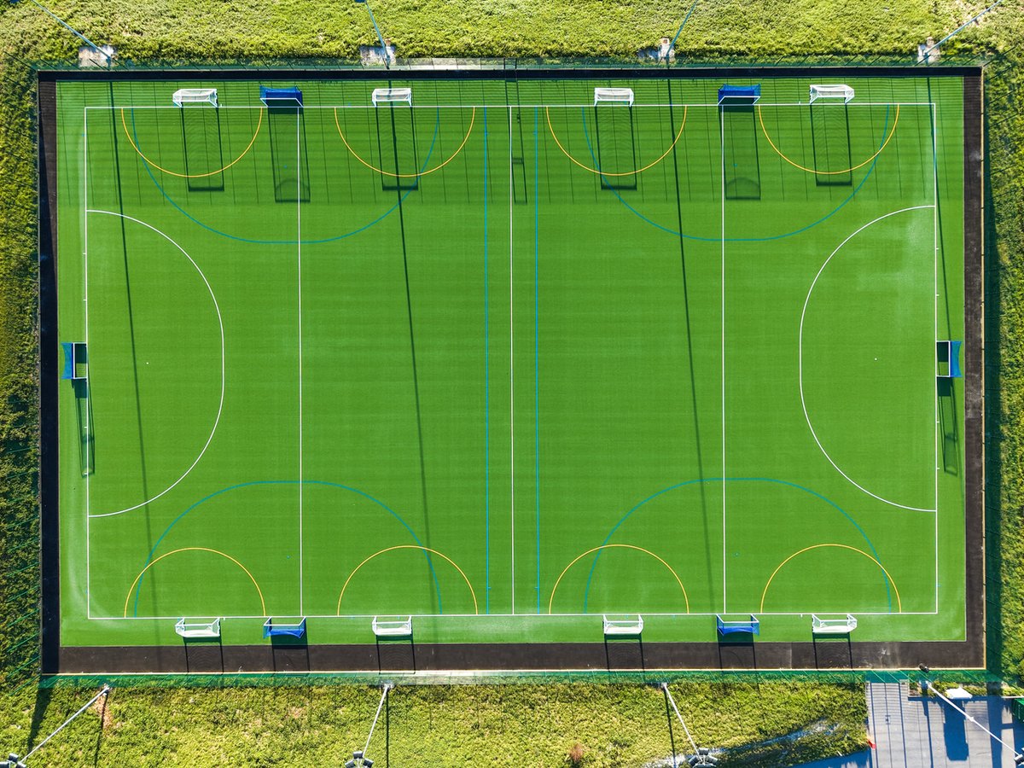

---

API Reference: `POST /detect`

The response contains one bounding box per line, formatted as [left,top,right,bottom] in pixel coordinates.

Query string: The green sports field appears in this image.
[56,77,967,646]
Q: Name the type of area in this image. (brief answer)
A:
sports ground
